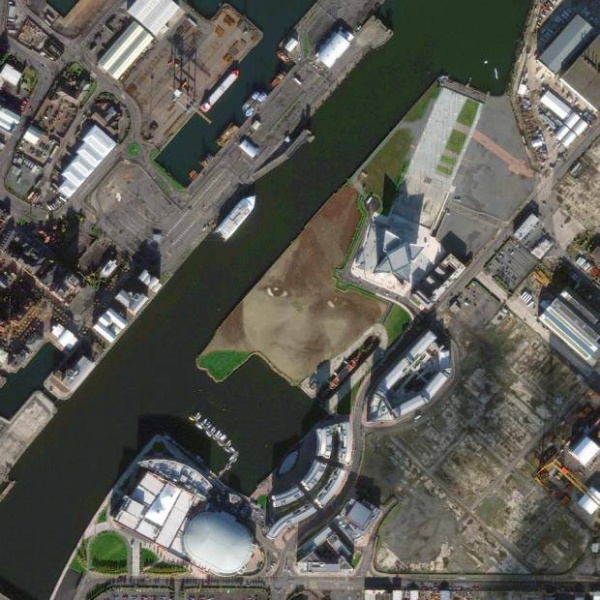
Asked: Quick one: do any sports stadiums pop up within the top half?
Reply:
No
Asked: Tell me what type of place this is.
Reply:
port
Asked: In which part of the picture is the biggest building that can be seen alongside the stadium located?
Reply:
bottom left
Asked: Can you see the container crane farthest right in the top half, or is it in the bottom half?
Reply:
bottom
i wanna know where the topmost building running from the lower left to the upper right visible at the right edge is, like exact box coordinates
[539,14,592,76]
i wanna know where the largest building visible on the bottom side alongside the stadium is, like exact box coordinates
[108,469,205,560]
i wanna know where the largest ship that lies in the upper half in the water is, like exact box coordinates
[217,196,255,240]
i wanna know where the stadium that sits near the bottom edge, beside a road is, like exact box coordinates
[183,510,254,581]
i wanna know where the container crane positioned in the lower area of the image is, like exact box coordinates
[535,452,600,508]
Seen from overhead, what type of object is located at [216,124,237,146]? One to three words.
ship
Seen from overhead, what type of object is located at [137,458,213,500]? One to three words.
building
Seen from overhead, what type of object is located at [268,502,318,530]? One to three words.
building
